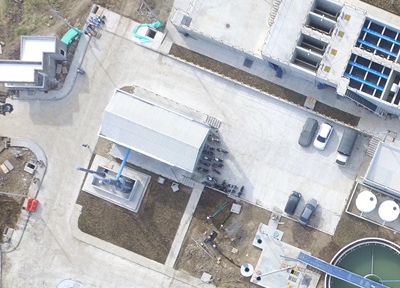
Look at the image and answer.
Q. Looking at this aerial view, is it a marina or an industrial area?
industrial area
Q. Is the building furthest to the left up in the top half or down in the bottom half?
top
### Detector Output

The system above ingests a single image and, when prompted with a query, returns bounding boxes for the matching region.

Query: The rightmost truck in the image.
[332,123,359,167]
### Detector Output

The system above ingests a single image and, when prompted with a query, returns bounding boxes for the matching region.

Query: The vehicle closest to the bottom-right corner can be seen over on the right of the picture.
[297,198,318,228]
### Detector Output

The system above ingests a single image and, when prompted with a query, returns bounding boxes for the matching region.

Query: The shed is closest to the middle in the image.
[98,89,211,175]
